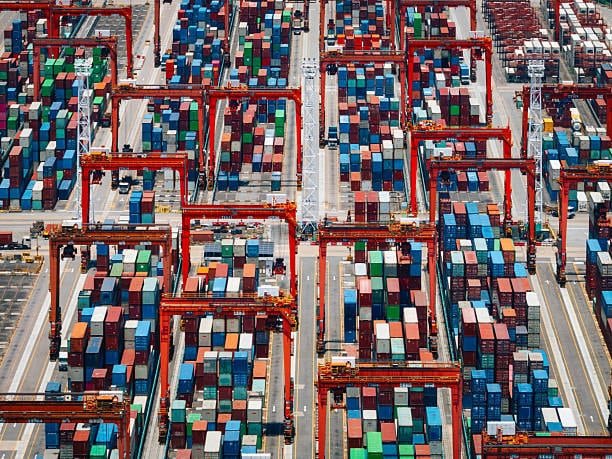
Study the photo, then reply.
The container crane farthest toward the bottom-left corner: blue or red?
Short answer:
red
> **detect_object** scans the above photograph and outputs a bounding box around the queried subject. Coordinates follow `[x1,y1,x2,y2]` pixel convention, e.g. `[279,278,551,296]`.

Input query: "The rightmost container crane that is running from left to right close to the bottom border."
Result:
[469,417,612,459]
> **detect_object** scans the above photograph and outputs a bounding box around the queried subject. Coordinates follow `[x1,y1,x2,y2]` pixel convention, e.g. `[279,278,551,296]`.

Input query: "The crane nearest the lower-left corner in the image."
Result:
[0,385,144,459]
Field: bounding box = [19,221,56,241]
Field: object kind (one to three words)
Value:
work vehicle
